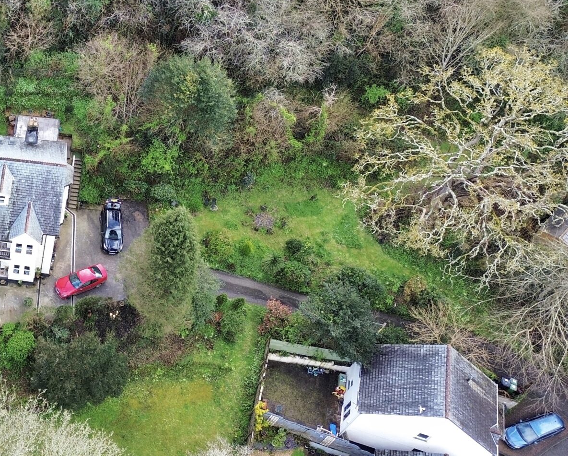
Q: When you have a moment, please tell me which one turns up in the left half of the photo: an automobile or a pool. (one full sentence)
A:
You can see an automobile in the left half of the photo.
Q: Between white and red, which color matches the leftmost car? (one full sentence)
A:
The leftmost car is red.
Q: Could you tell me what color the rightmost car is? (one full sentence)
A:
The color of the rightmost car is blue.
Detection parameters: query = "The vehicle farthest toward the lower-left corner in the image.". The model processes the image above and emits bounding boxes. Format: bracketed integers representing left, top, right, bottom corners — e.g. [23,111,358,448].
[50,259,113,301]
